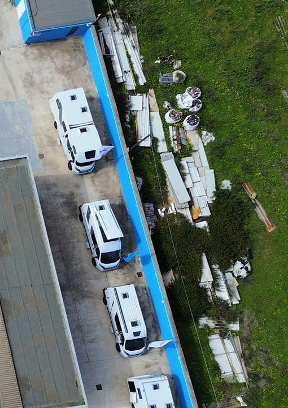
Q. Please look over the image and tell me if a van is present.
Yes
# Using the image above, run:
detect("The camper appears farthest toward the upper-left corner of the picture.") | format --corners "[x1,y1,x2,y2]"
[50,88,100,172]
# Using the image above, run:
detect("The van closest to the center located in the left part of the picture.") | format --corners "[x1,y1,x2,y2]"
[78,200,126,271]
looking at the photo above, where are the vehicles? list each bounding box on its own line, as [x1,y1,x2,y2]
[50,88,100,172]
[100,284,151,357]
[78,200,126,271]
[127,374,177,408]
